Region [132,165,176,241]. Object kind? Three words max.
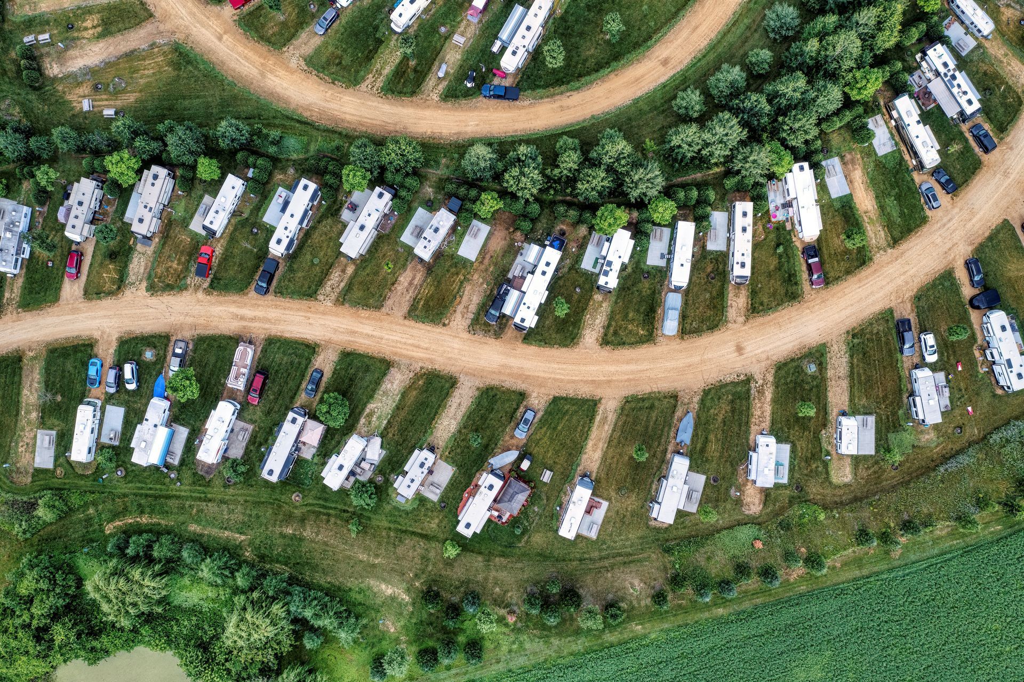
vehicle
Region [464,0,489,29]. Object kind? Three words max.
camper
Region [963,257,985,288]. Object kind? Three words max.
car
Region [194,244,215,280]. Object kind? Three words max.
truck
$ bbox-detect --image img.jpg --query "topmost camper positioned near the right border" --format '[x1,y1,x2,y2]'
[943,0,994,46]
